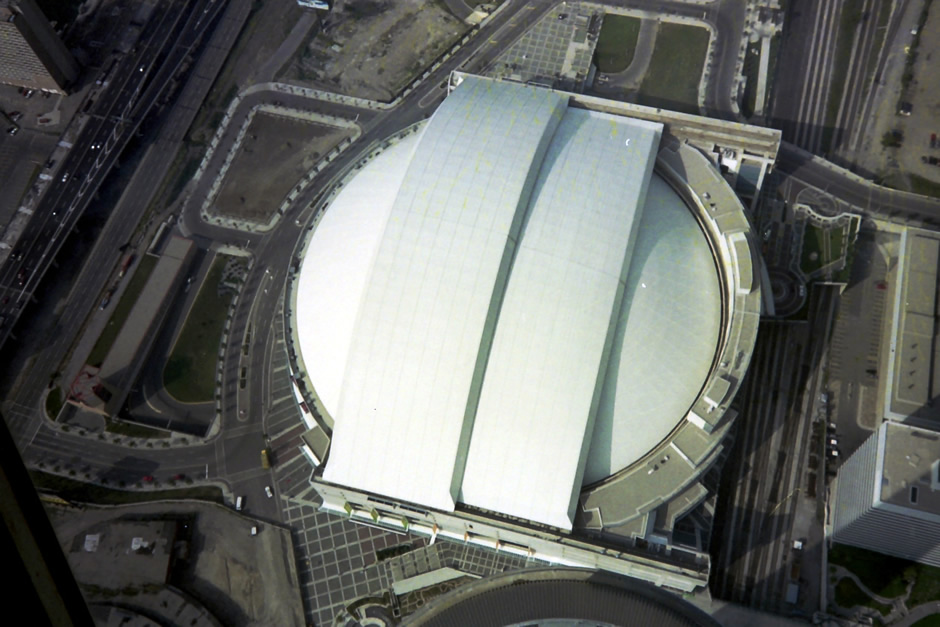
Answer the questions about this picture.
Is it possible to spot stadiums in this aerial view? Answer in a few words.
Yes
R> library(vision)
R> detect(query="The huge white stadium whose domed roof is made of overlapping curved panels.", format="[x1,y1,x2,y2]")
[285,73,780,599]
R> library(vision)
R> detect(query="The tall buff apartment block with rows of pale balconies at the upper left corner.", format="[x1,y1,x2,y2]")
[0,0,84,99]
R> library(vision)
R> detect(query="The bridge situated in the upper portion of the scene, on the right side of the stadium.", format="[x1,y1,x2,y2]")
[772,140,940,233]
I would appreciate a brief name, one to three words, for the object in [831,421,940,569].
building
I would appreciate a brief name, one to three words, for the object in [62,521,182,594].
building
